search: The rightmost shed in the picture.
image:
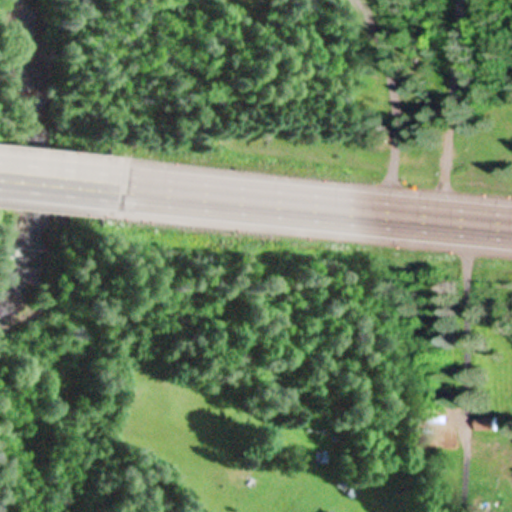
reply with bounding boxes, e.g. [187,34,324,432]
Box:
[472,417,494,434]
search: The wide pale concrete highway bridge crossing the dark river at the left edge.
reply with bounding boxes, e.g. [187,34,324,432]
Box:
[0,144,130,222]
